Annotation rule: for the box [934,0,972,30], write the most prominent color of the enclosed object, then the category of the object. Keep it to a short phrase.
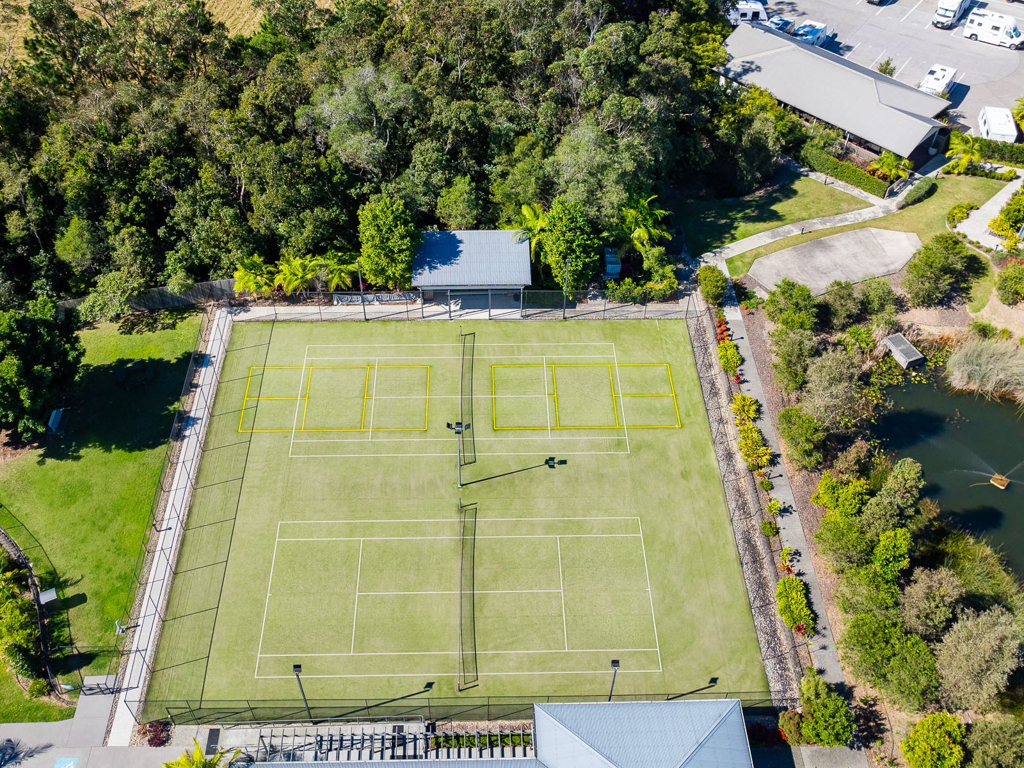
white camper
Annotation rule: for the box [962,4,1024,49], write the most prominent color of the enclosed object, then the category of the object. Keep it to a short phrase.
white camper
